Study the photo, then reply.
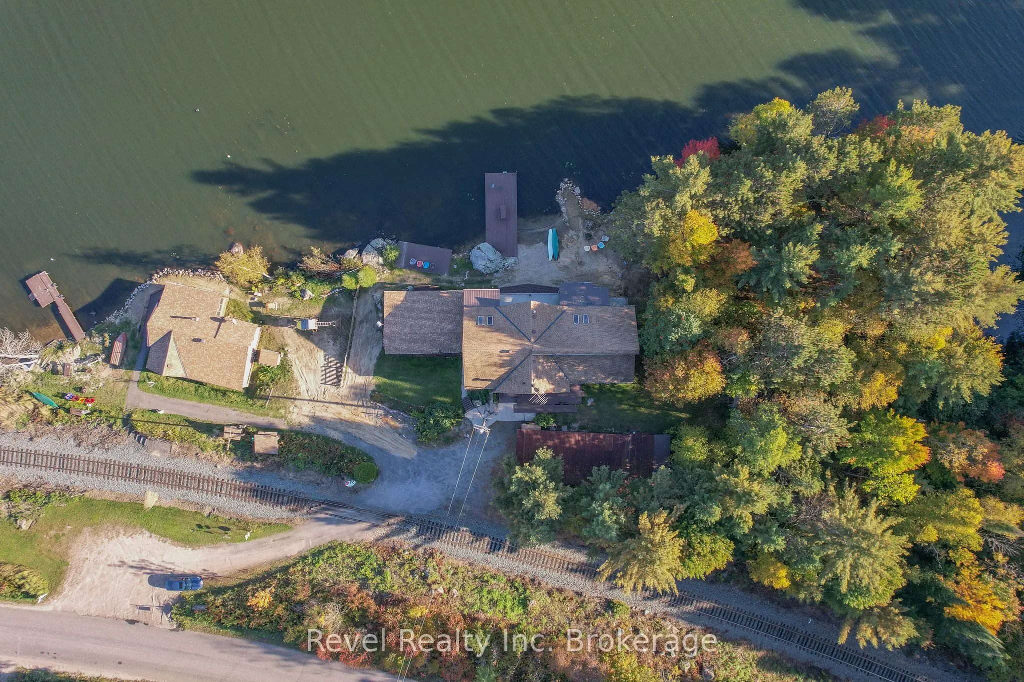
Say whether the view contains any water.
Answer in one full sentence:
Yes, there's water in this view.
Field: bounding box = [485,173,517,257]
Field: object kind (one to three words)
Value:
pier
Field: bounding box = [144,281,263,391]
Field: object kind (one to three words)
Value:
house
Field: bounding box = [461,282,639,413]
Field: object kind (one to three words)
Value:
house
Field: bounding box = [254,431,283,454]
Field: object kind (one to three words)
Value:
shed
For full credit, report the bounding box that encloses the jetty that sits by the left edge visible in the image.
[23,271,86,342]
